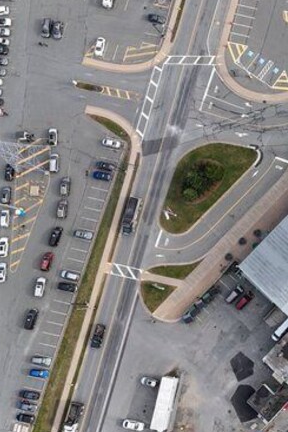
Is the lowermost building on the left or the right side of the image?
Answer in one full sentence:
The lowermost building sits on the right side.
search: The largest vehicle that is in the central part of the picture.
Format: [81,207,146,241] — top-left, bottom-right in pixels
[121,196,142,233]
